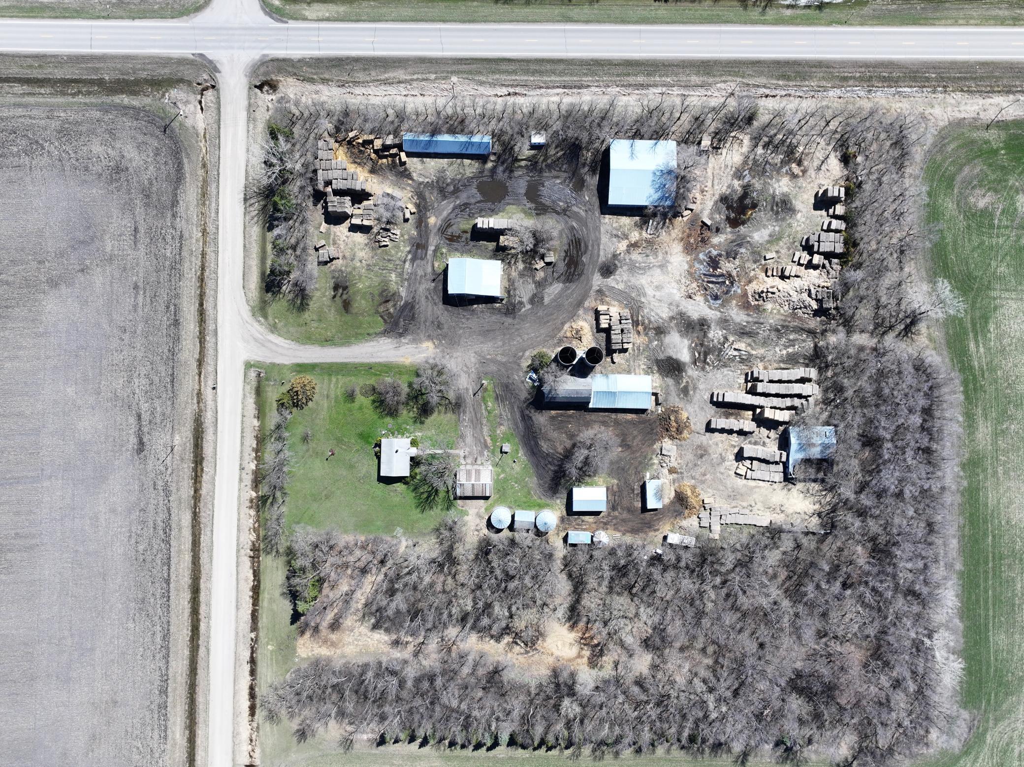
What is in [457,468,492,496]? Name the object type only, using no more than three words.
building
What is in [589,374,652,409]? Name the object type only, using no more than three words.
barn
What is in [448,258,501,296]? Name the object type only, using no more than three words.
shed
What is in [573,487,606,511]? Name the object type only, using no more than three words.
shed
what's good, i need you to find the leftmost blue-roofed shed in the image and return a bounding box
[403,133,491,156]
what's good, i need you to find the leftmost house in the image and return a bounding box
[381,439,417,477]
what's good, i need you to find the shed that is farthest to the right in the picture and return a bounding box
[784,426,836,477]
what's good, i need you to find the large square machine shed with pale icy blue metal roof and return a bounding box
[607,140,676,210]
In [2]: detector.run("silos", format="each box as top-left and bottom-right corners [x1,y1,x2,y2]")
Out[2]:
[491,505,511,528]
[536,508,556,530]
[583,346,604,365]
[592,529,609,546]
[556,346,576,365]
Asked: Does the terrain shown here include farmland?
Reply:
Yes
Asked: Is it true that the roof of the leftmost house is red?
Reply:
No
